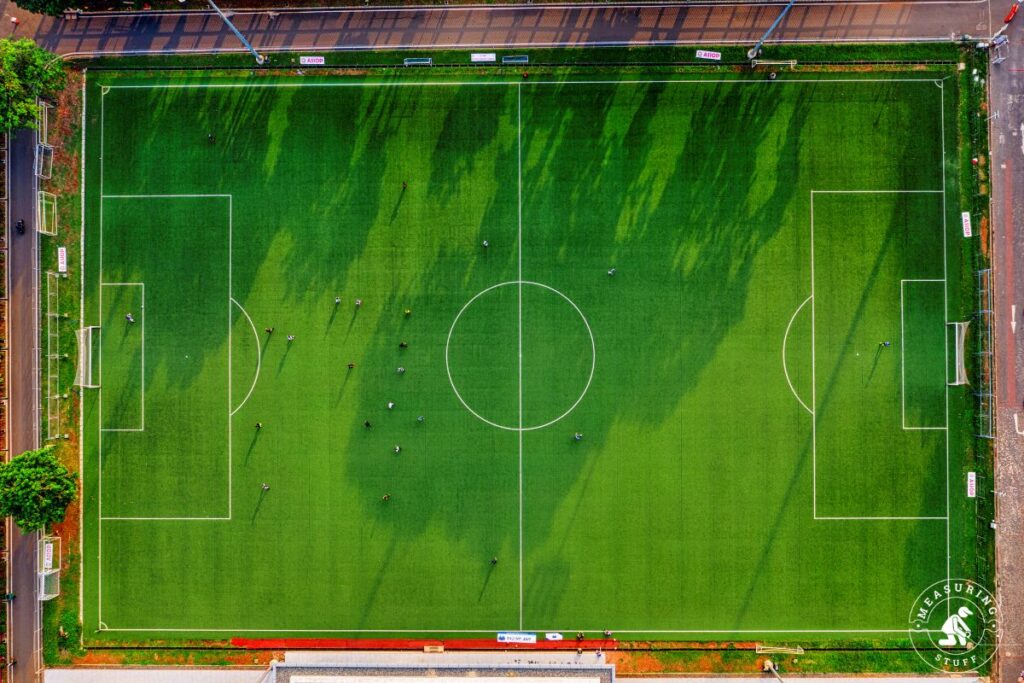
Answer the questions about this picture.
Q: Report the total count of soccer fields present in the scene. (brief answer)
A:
1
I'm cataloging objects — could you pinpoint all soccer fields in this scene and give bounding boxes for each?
[81,72,962,641]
